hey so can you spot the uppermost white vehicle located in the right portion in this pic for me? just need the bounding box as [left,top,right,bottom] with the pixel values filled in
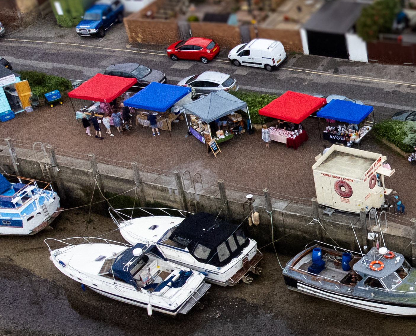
[226,37,291,71]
